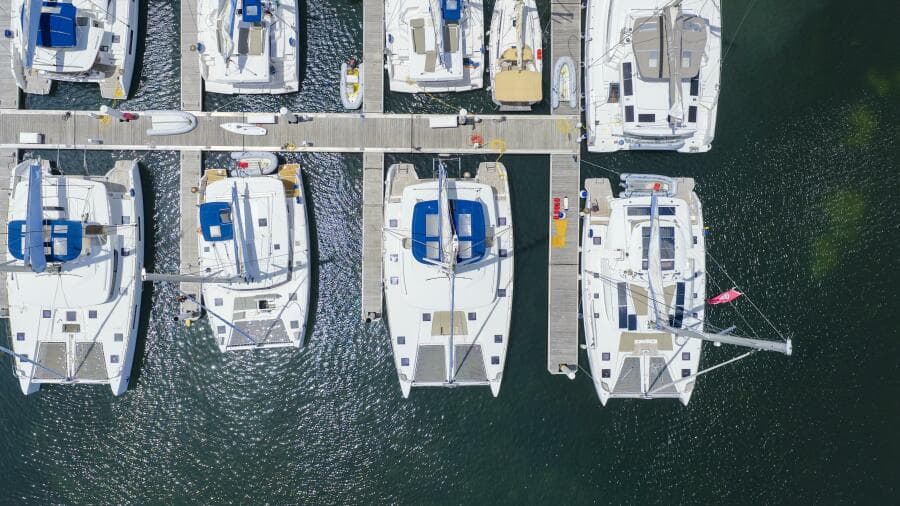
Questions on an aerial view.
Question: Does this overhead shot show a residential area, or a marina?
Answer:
marina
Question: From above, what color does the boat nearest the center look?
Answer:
white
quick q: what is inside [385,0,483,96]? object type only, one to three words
boat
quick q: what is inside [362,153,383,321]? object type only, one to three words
pier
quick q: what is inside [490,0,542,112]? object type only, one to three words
boat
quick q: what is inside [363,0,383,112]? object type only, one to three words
pier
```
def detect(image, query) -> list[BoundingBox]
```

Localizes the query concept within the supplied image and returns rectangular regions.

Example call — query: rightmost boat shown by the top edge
[581,0,757,153]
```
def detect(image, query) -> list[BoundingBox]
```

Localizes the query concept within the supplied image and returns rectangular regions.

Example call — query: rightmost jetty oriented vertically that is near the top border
[551,0,581,114]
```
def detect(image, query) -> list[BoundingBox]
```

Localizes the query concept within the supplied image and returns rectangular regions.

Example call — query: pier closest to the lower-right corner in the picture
[548,154,578,374]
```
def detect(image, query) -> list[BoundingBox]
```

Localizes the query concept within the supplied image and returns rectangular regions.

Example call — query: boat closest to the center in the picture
[383,154,514,398]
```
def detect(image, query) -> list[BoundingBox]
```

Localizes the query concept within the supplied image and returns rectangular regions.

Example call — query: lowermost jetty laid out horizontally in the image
[0,110,581,154]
